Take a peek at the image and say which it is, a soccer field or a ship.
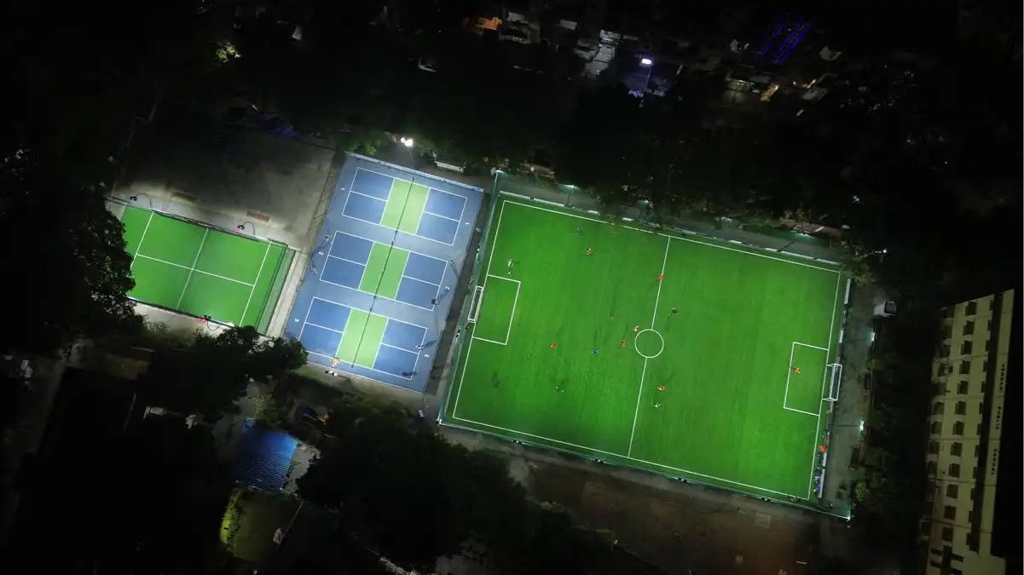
soccer field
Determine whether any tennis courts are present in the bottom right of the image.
No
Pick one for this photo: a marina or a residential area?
residential area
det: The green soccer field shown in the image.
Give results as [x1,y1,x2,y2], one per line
[443,193,848,509]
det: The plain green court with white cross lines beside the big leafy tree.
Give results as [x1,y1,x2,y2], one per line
[97,204,297,334]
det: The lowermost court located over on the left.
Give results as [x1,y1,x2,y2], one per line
[295,296,430,380]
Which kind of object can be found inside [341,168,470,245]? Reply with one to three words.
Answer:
sports court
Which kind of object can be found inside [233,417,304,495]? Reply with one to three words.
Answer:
shed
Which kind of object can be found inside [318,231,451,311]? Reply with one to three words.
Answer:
sports court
